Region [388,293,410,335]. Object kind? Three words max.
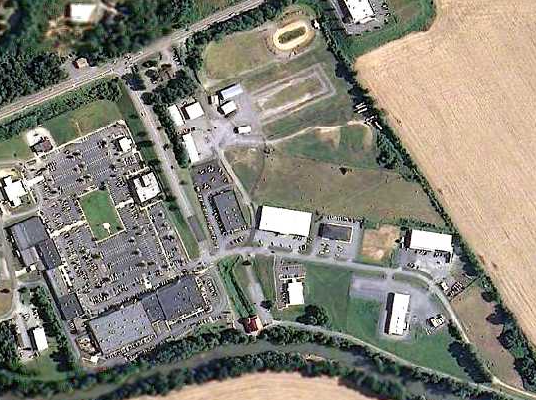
shed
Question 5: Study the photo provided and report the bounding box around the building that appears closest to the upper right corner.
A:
[345,0,375,24]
